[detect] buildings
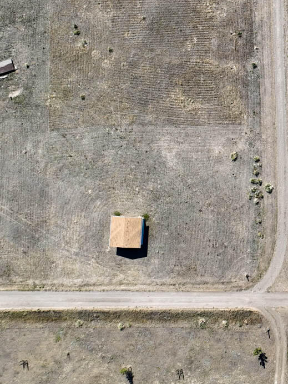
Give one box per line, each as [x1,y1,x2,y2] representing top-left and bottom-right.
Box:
[110,215,148,248]
[0,55,15,77]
